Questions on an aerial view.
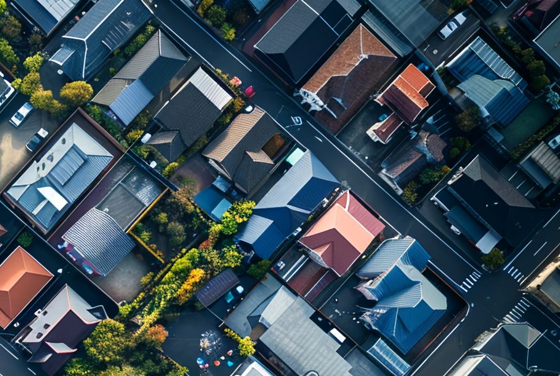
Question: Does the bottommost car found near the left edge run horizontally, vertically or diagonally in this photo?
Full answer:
The bottommost car found near the left edge is oriented diagonally.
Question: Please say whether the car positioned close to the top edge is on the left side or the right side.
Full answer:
The car positioned close to the top edge appears in the right half of the scene.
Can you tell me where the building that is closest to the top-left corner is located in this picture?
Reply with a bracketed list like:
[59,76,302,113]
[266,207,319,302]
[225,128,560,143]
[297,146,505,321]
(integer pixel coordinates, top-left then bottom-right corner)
[11,0,81,36]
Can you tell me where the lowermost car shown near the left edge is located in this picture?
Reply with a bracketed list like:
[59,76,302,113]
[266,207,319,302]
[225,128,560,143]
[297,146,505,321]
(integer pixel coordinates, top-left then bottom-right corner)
[25,125,49,153]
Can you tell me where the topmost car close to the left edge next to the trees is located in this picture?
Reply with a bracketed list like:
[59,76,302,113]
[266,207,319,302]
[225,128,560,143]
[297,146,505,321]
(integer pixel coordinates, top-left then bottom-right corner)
[8,101,33,129]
